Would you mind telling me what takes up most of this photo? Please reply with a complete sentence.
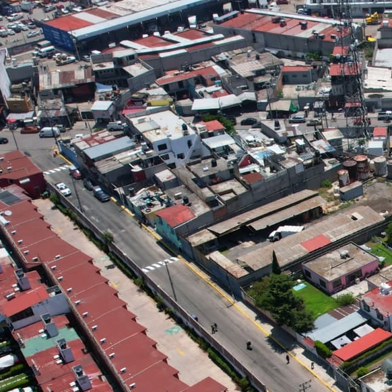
For the most part, this view shows buildings.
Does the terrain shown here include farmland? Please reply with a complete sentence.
No, there is no farmland in the image.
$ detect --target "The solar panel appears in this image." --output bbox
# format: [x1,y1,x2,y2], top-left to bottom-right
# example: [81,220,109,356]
[0,185,24,205]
